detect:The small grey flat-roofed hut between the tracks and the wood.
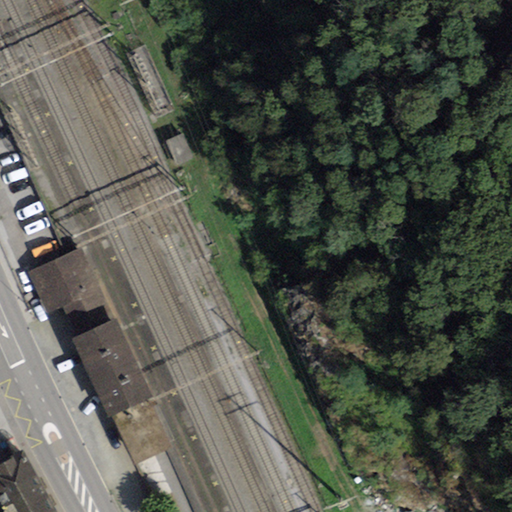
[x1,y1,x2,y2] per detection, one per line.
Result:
[166,134,194,164]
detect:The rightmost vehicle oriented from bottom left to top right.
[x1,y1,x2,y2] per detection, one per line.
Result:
[80,395,100,416]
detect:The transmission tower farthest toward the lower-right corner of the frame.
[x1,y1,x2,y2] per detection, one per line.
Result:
[324,494,358,508]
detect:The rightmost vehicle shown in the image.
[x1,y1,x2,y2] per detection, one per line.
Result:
[108,426,124,450]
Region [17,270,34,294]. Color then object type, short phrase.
white car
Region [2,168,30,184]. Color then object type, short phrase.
white vehicle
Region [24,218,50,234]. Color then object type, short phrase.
white car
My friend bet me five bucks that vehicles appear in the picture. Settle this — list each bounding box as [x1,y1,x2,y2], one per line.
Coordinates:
[80,395,100,416]
[30,298,48,324]
[56,358,78,372]
[17,202,44,219]
[17,270,34,294]
[108,426,124,450]
[0,154,21,166]
[24,218,50,234]
[10,180,32,194]
[2,168,30,184]
[32,238,59,256]
[0,129,14,142]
